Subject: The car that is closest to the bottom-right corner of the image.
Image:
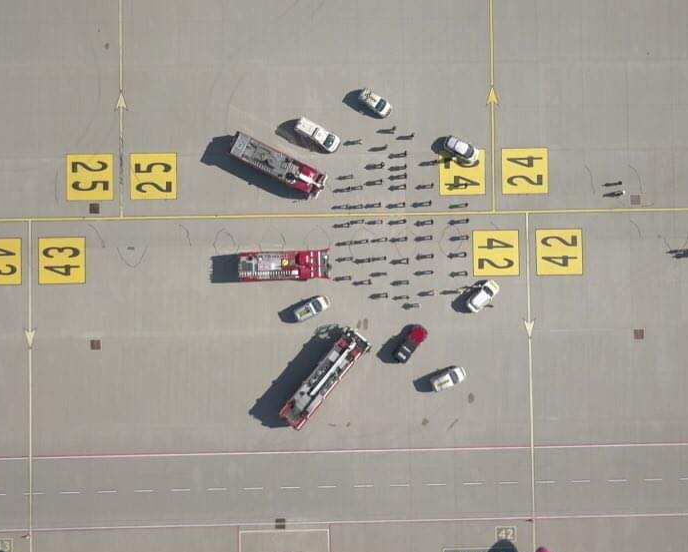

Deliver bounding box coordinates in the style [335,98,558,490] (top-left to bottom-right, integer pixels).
[430,366,467,393]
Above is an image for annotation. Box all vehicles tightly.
[394,326,427,365]
[357,85,393,118]
[278,326,370,433]
[430,366,467,393]
[441,134,480,163]
[294,115,341,154]
[237,247,337,281]
[466,279,500,316]
[227,129,328,198]
[292,295,331,323]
